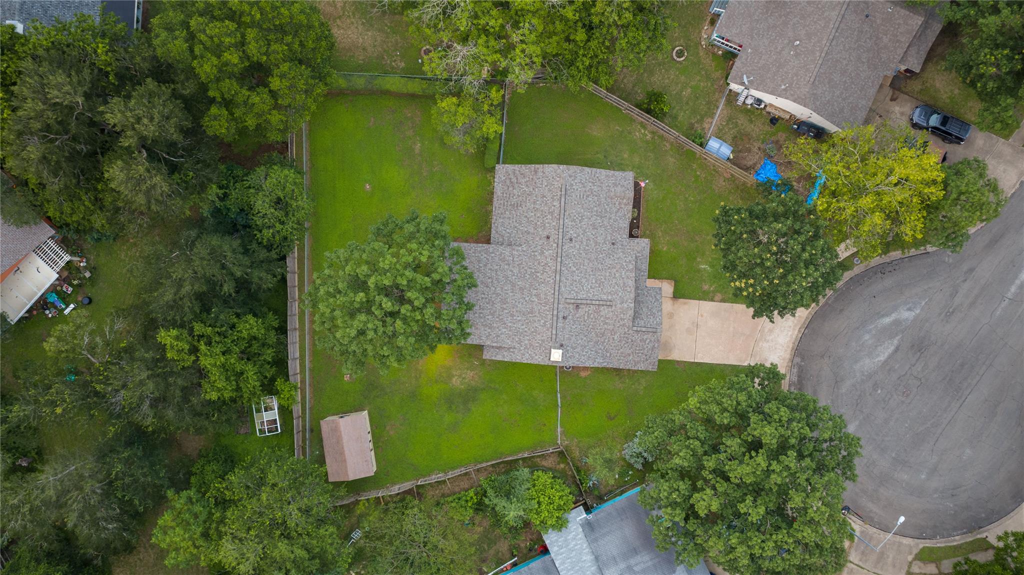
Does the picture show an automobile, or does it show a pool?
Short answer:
automobile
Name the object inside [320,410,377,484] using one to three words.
shed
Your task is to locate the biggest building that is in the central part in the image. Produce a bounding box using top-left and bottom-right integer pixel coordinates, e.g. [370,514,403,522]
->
[449,165,662,371]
